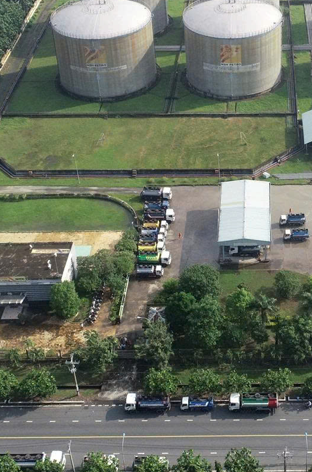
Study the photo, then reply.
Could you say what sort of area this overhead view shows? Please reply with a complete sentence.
It's an industrial area.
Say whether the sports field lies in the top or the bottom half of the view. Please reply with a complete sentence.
The sports field is in the top half of the image.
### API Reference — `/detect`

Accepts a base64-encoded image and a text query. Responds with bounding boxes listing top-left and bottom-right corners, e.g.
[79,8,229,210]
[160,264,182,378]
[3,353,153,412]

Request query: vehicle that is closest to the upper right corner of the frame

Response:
[281,212,305,225]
